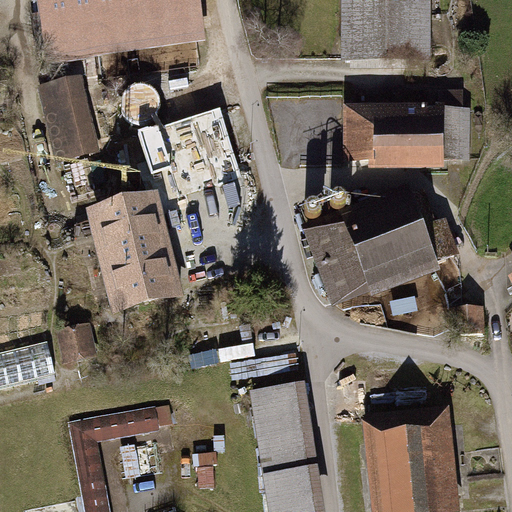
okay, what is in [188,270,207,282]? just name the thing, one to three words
vehicle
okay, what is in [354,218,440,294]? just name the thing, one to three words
barn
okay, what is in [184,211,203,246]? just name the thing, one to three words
vehicle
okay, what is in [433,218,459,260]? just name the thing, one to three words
shed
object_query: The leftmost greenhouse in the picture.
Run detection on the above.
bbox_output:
[0,341,56,388]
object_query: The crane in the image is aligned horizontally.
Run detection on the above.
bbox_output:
[3,148,141,190]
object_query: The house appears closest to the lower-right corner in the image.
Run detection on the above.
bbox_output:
[361,405,460,512]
